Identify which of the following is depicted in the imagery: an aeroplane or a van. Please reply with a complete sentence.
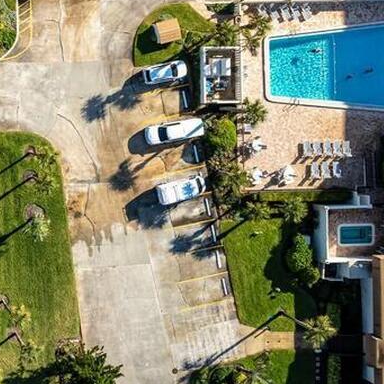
Of the two, only a van appears.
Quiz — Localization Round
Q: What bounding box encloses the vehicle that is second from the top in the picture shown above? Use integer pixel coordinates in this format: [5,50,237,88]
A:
[142,118,205,145]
